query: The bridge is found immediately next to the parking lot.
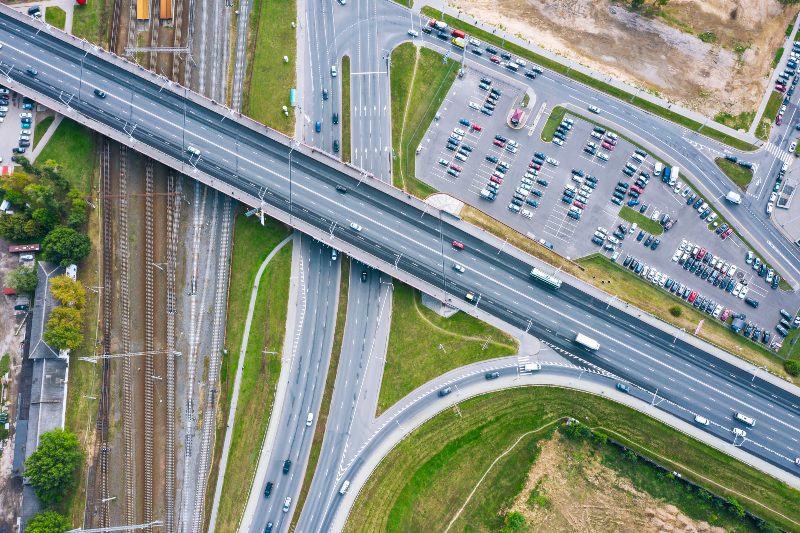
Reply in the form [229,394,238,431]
[0,2,460,318]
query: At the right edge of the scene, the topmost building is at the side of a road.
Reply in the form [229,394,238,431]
[772,177,800,211]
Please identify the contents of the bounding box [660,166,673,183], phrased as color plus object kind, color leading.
blue vehicle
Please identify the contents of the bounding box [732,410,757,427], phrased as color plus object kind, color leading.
white vehicle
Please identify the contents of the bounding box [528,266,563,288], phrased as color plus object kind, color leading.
white bus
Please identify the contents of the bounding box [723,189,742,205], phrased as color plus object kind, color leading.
white vehicle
